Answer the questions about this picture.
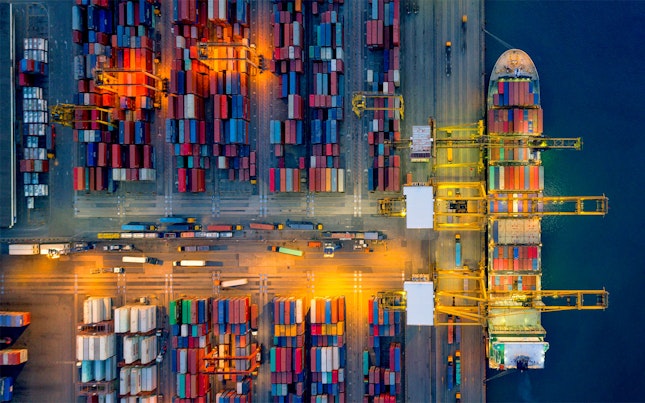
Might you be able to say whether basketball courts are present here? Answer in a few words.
No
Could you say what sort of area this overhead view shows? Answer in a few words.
port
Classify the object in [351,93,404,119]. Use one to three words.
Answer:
container crane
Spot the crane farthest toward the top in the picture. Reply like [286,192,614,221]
[195,42,261,71]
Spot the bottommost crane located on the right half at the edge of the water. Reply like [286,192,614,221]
[379,258,608,327]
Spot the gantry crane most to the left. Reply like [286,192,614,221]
[35,104,114,129]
